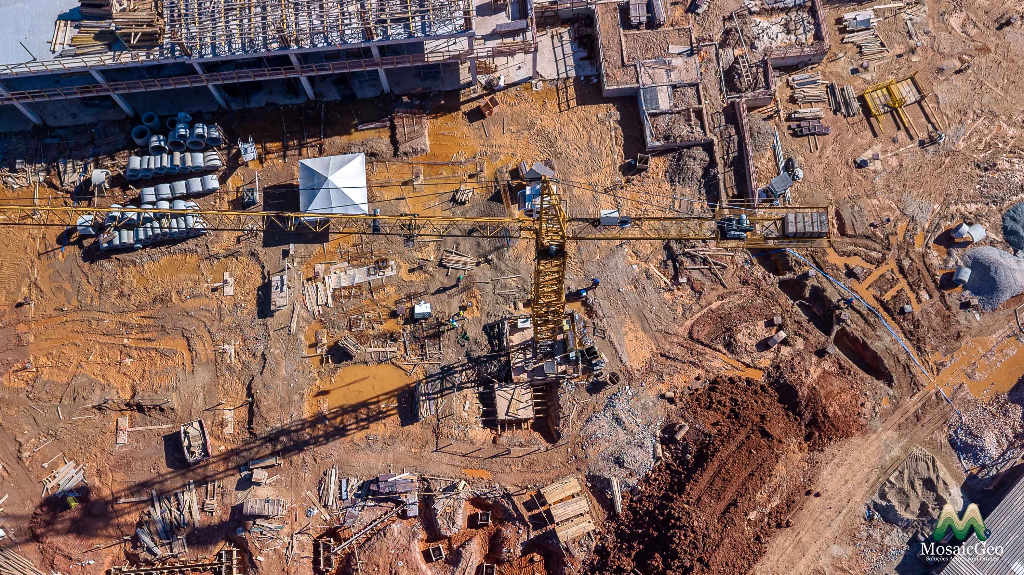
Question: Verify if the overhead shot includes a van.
No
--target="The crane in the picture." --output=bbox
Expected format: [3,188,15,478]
[0,167,849,359]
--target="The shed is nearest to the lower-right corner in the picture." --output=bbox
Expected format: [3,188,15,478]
[920,469,1024,575]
